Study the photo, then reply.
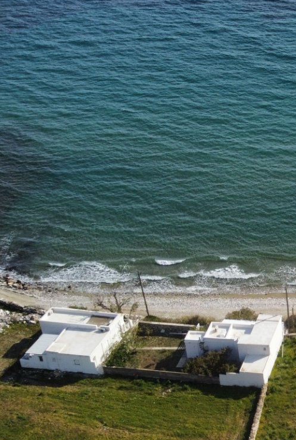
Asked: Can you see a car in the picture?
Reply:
No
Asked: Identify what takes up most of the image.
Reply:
water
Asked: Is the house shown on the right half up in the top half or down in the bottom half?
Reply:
bottom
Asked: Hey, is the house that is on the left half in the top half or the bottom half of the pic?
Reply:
bottom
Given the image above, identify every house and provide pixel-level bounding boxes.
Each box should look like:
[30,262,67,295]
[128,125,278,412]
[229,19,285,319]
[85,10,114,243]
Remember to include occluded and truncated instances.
[176,313,284,383]
[19,308,134,373]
